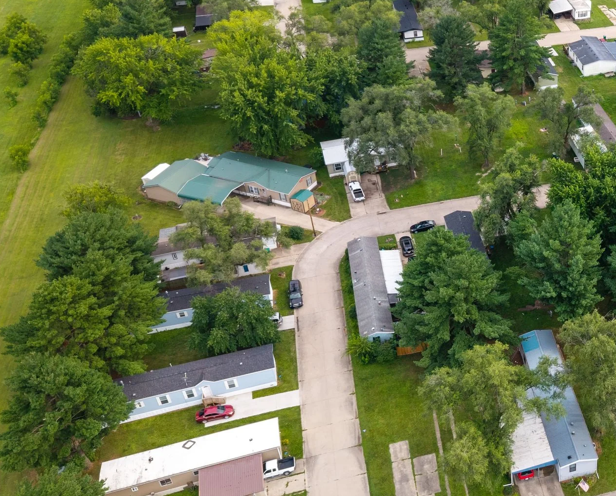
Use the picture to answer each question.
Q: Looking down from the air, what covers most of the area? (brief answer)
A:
trees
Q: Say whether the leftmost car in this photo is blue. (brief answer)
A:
No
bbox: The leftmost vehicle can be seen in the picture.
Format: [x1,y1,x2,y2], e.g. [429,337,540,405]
[196,403,236,426]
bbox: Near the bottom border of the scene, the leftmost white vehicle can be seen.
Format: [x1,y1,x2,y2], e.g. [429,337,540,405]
[265,453,303,482]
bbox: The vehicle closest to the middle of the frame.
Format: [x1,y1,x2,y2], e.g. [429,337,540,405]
[289,281,303,309]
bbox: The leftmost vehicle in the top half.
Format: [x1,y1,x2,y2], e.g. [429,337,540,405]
[349,182,365,203]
